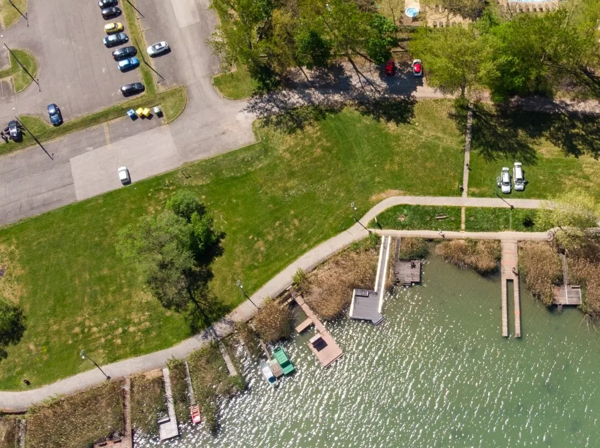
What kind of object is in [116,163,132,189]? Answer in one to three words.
car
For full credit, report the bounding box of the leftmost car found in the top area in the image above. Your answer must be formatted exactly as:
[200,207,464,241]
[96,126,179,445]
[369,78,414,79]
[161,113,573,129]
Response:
[0,117,25,144]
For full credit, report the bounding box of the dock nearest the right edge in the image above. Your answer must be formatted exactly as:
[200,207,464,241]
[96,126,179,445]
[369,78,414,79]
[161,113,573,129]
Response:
[553,252,582,313]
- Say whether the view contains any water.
Yes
